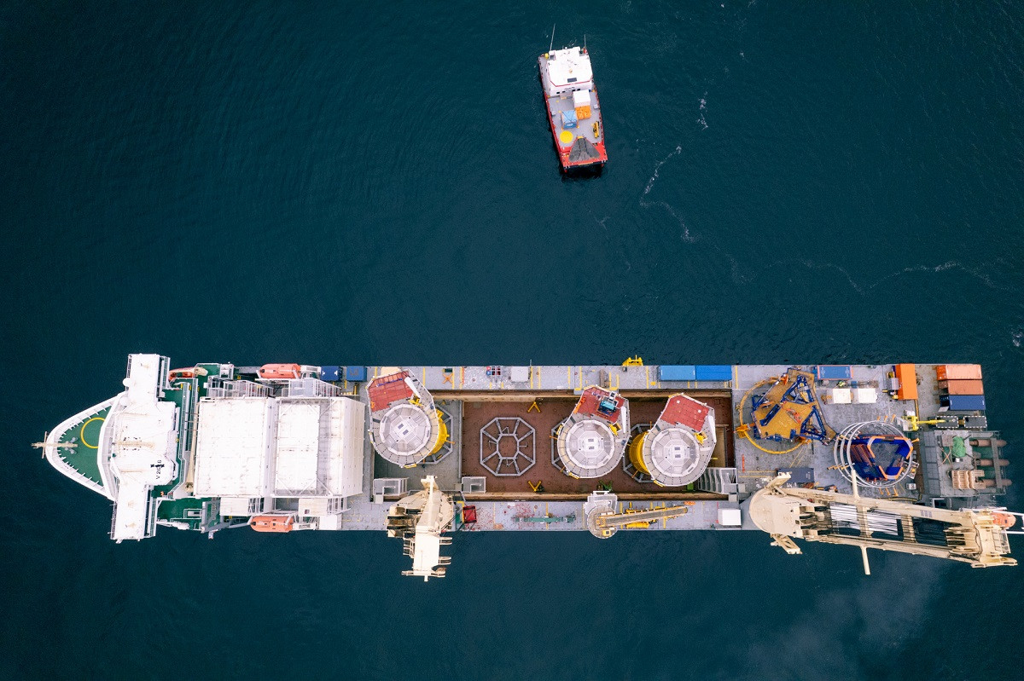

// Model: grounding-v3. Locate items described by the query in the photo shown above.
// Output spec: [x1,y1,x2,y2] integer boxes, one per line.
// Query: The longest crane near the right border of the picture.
[730,460,1016,575]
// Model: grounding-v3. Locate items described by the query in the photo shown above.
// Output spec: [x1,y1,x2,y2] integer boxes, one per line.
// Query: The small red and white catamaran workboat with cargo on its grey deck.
[535,24,608,174]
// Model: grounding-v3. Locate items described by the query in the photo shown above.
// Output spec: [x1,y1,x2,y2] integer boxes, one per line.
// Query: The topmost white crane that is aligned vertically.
[183,401,199,493]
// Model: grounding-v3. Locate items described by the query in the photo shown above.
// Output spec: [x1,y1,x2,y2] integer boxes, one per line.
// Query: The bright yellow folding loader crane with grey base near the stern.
[892,410,945,431]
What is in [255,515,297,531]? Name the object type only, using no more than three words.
boat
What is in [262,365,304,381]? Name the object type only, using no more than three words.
boat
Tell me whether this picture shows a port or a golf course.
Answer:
port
